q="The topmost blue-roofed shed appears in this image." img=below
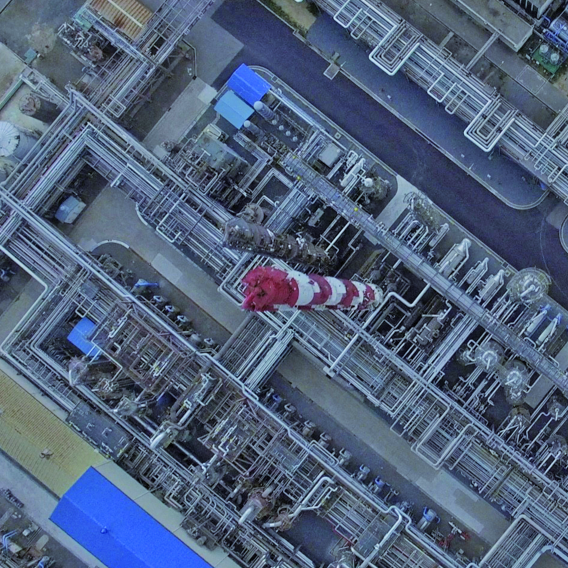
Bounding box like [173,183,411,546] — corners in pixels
[227,62,277,108]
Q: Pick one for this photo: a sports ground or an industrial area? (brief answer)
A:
industrial area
